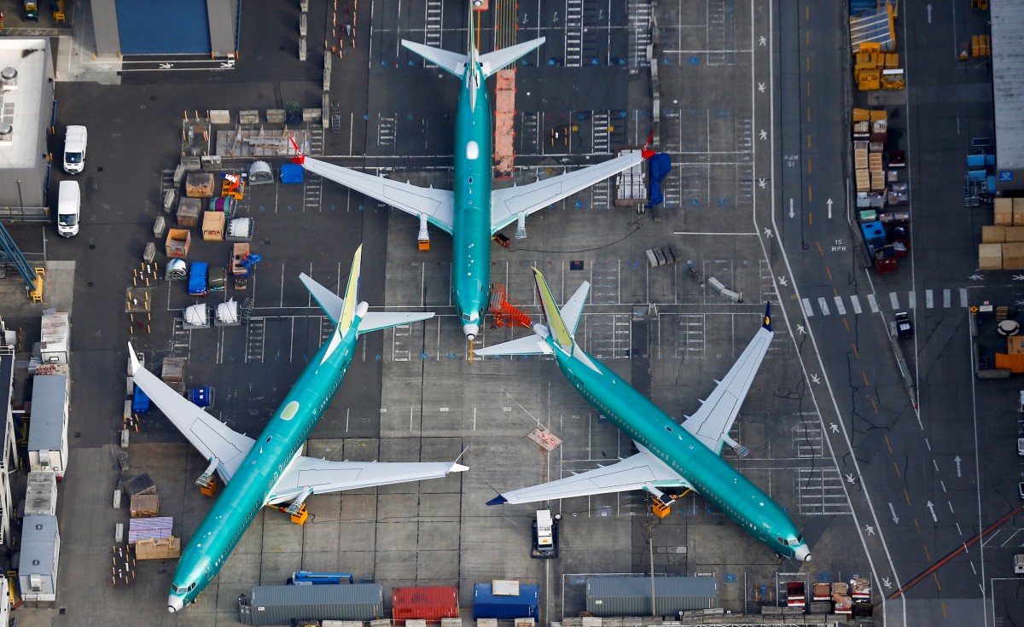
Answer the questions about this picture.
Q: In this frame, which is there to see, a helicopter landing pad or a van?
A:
van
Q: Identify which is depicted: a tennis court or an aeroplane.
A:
aeroplane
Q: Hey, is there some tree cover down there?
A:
No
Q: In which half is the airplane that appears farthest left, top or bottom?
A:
bottom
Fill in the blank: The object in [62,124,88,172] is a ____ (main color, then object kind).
white vehicle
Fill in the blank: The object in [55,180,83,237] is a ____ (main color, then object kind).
white van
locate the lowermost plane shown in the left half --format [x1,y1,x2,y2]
[126,248,468,611]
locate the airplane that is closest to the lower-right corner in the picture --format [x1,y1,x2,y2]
[468,265,813,561]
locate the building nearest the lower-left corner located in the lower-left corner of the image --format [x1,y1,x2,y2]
[19,516,63,599]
